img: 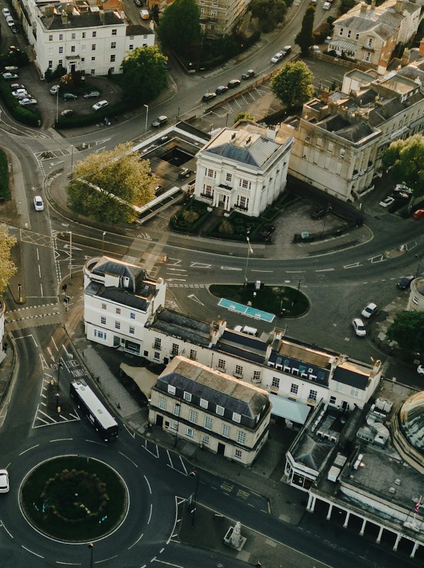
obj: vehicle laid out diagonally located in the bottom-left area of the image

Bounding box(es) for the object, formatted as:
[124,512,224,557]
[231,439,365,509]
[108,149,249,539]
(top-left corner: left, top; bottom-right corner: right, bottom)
[67,381,125,445]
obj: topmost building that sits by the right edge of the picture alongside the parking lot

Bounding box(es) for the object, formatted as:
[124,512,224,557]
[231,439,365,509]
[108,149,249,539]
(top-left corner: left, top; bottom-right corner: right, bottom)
[325,0,424,72]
